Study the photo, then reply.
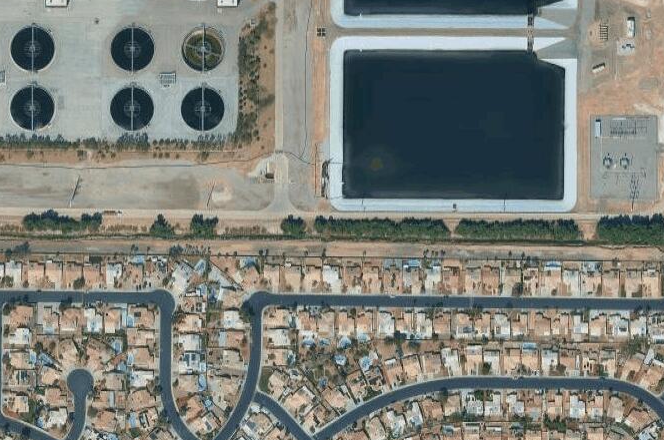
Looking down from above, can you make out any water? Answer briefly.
Yes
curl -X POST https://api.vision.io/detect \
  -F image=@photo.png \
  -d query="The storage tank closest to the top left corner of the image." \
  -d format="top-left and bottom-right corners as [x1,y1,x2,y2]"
[10,23,55,72]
